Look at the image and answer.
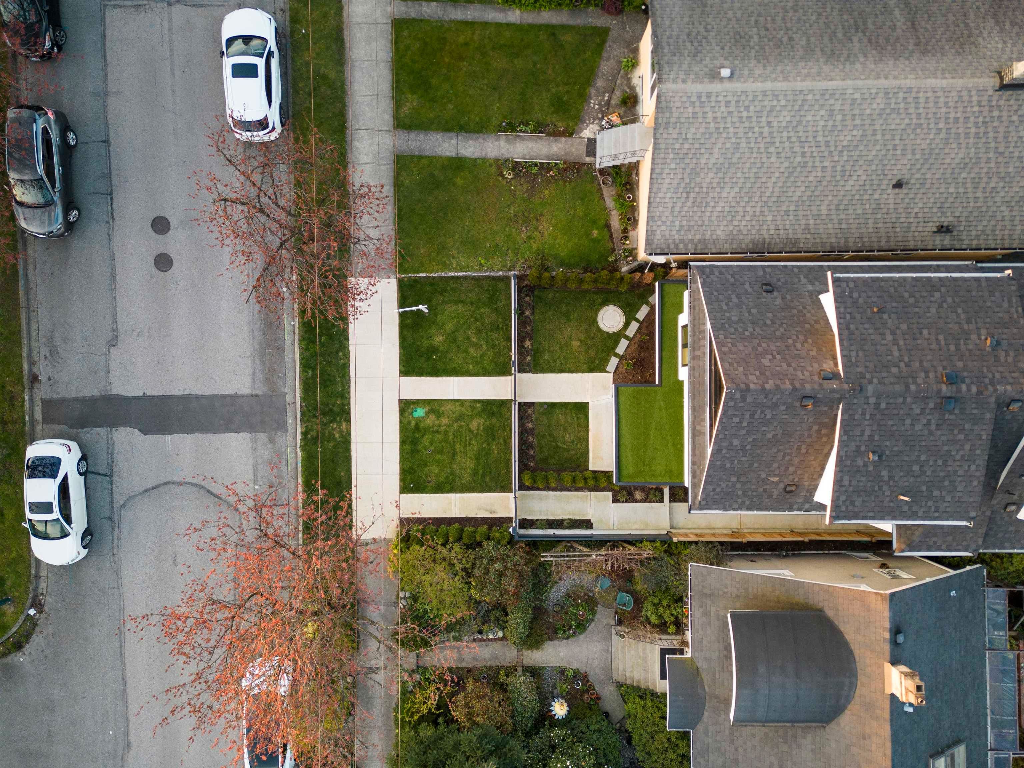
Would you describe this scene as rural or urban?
urban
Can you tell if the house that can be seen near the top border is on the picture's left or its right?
right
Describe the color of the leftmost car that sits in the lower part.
white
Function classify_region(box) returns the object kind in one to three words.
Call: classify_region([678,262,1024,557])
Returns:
house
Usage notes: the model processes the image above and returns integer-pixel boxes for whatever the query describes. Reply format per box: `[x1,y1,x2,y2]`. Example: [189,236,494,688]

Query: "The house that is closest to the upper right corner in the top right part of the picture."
[638,0,1024,261]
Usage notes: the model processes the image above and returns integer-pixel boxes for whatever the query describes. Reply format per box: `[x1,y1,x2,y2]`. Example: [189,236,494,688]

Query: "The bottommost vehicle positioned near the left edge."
[17,439,97,569]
